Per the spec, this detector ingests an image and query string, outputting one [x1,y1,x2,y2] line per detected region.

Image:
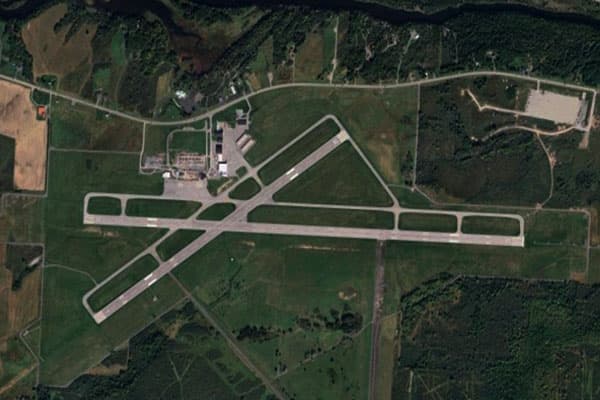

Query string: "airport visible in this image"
[83,115,525,323]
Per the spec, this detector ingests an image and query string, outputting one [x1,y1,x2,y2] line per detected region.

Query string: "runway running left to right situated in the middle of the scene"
[84,215,524,247]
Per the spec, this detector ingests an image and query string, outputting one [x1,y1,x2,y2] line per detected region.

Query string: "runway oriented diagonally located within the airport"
[94,131,350,323]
